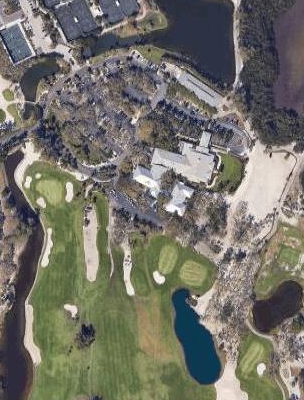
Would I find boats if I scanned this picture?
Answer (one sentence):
No, the frame has no boat in it.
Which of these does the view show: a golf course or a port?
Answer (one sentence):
This image shows a golf course.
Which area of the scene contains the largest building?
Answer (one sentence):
Look in the center portion of the view to spot the largest building.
